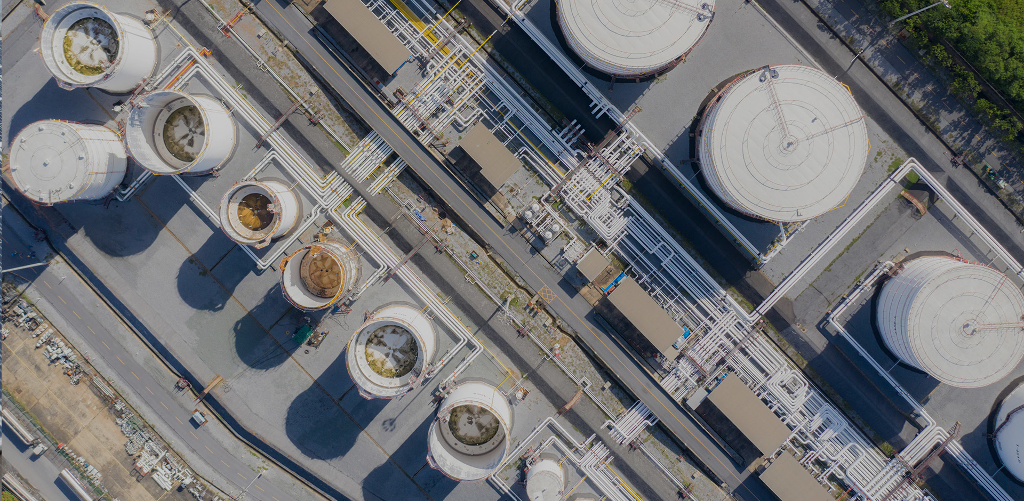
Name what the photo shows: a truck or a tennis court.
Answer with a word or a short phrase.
truck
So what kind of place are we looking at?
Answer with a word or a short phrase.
industrial area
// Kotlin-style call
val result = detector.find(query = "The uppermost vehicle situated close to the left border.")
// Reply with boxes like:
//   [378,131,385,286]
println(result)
[0,409,40,454]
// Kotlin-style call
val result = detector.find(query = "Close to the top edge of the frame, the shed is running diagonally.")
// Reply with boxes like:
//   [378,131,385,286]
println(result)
[316,0,414,82]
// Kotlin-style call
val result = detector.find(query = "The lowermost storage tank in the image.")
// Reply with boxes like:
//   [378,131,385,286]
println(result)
[523,456,566,501]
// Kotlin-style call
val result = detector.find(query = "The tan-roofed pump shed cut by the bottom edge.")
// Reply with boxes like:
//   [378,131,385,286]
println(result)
[750,446,837,501]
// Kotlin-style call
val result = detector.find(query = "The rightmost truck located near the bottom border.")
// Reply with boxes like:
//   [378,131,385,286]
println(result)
[60,471,90,501]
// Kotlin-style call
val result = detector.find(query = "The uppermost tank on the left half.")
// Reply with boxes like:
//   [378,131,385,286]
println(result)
[38,0,160,95]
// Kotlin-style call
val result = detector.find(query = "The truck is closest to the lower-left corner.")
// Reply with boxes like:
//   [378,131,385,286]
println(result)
[2,475,29,501]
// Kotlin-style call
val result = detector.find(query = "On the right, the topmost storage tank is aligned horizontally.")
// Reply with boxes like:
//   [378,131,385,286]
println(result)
[545,0,714,83]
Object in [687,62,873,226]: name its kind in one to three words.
storage tank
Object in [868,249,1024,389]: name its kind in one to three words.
storage tank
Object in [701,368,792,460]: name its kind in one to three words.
shed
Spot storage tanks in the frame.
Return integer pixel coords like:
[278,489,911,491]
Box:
[987,376,1024,493]
[341,301,440,405]
[687,62,873,226]
[122,87,238,181]
[523,456,566,501]
[9,120,131,202]
[277,238,356,313]
[38,0,160,95]
[545,0,714,83]
[216,177,302,250]
[422,377,515,487]
[868,249,1024,389]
